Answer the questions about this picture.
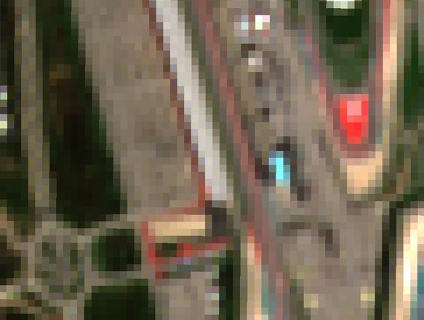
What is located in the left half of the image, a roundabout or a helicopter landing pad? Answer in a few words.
roundabout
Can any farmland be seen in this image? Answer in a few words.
Yes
